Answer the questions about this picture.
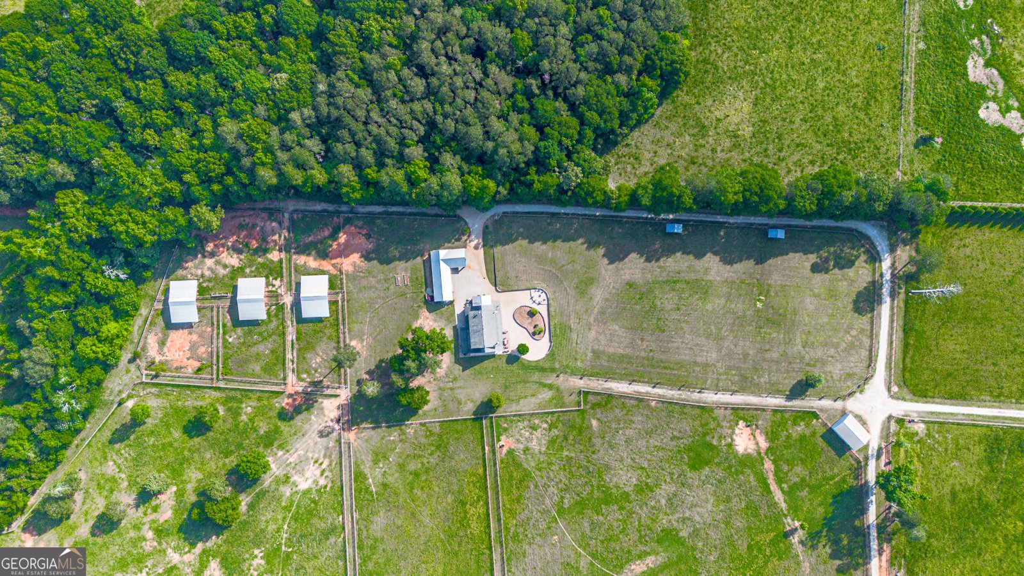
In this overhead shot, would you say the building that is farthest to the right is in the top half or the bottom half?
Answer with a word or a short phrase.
bottom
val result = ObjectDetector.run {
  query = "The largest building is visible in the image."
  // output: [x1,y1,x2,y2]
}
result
[460,295,503,353]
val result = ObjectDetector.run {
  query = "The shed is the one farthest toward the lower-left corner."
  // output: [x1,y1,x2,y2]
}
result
[168,280,201,323]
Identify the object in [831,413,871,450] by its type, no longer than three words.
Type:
building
